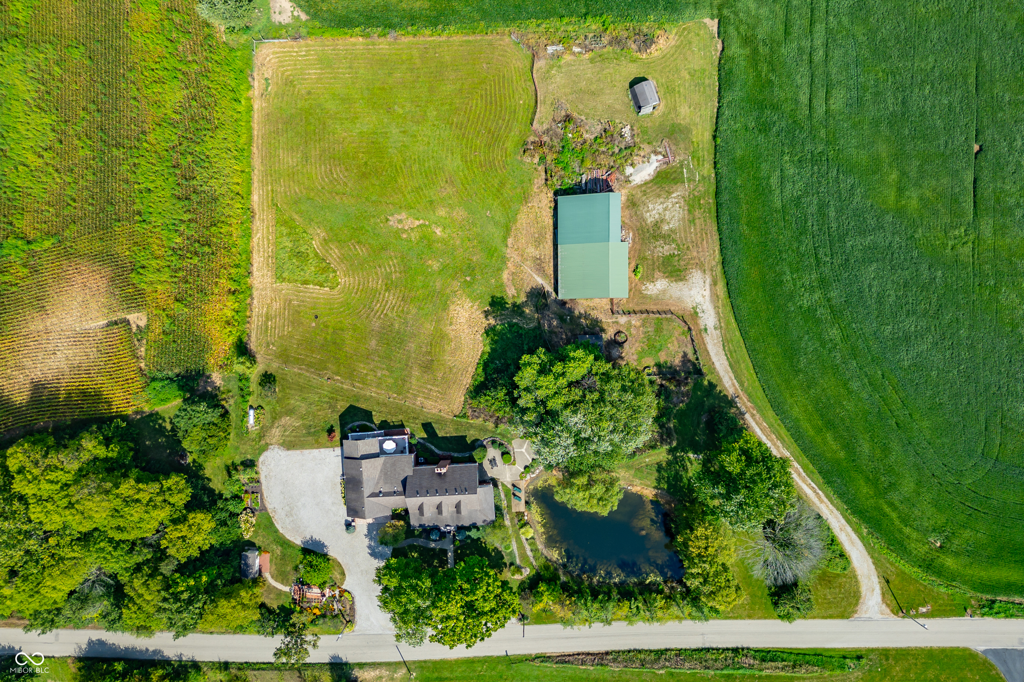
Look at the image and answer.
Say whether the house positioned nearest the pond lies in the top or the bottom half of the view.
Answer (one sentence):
It is in the bottom half that the house positioned nearest the pond appears.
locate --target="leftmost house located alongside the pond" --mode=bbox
[338,436,495,532]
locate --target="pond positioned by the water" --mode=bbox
[531,472,688,583]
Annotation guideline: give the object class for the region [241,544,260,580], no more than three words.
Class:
shed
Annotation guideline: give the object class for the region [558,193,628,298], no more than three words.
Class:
barn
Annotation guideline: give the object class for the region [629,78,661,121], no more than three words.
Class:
shed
